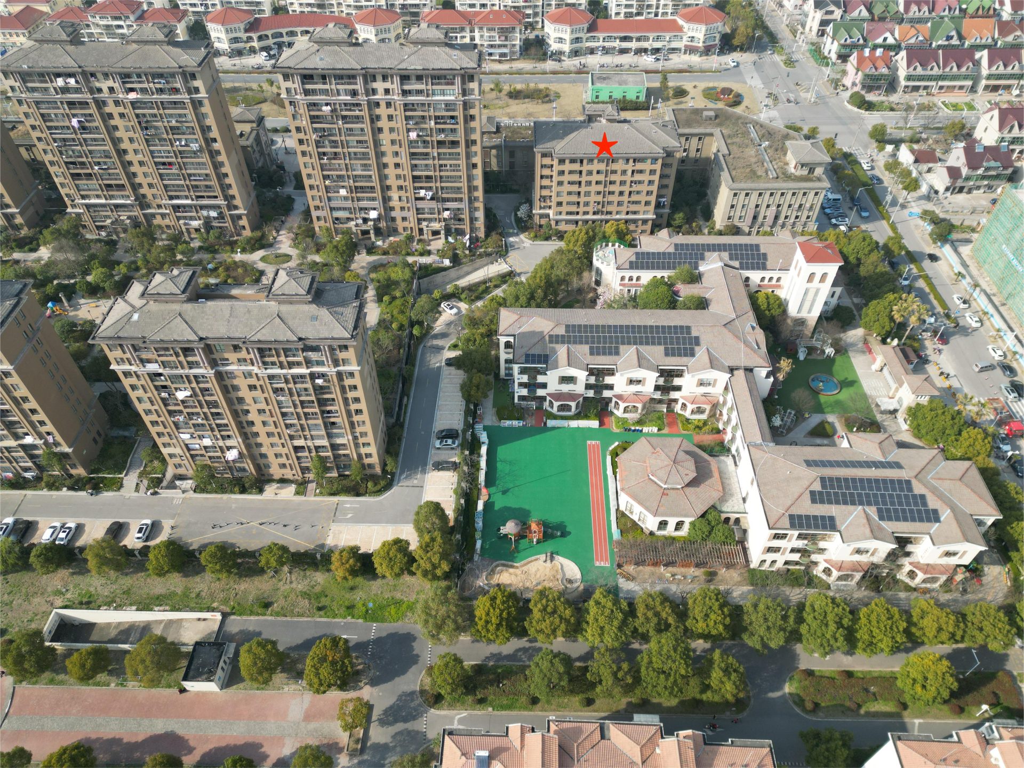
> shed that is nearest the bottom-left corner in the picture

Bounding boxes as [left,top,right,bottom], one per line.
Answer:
[181,639,239,690]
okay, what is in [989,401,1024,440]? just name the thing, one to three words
truck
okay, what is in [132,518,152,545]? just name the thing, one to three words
car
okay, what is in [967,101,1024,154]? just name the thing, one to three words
house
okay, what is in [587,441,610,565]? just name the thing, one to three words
running track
